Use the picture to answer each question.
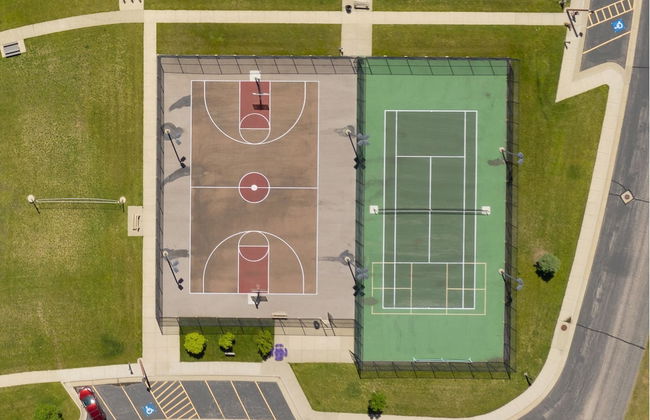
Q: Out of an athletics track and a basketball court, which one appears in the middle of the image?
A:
basketball court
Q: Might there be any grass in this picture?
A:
Yes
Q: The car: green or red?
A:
red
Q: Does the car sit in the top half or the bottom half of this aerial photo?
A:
bottom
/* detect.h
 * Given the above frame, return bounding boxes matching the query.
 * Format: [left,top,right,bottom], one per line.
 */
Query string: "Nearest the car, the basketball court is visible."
[156,58,357,319]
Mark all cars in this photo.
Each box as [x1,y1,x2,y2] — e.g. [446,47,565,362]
[79,385,107,420]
